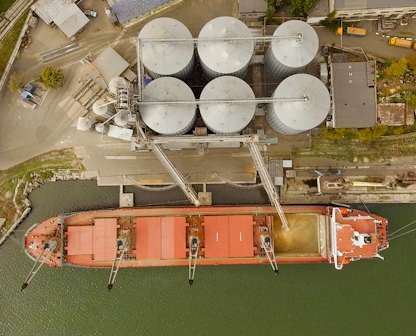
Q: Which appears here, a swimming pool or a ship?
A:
ship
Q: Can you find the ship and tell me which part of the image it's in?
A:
bottom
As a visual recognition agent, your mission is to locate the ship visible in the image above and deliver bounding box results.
[21,205,391,289]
